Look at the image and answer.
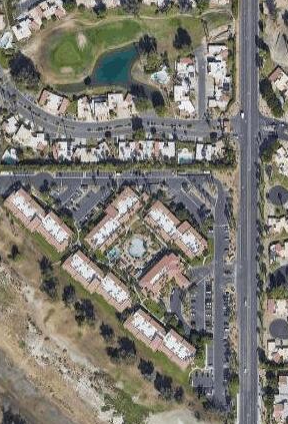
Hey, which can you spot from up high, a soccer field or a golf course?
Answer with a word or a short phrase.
golf course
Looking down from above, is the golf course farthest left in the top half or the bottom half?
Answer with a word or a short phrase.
top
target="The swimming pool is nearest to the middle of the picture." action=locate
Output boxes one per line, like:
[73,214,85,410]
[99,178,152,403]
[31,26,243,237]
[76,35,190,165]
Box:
[129,237,145,255]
